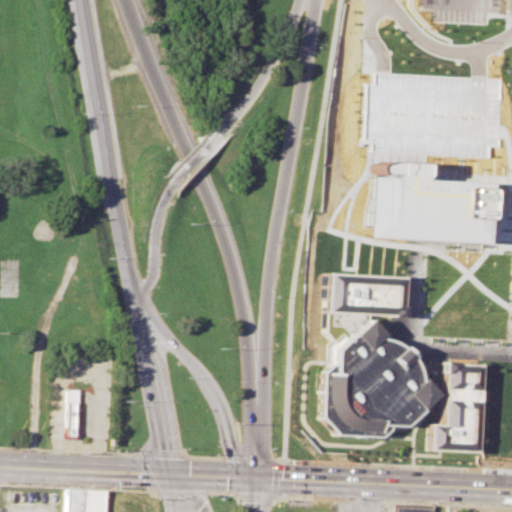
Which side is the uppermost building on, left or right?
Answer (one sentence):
The uppermost building sits on the right side.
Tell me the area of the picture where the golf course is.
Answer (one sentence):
Look in the left portion of the view to spot the golf course.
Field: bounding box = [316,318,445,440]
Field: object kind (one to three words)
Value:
building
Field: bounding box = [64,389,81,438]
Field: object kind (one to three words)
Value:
building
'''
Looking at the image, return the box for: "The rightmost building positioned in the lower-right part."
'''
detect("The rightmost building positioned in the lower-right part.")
[426,362,486,450]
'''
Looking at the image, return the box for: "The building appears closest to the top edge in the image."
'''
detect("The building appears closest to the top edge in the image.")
[360,163,512,245]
